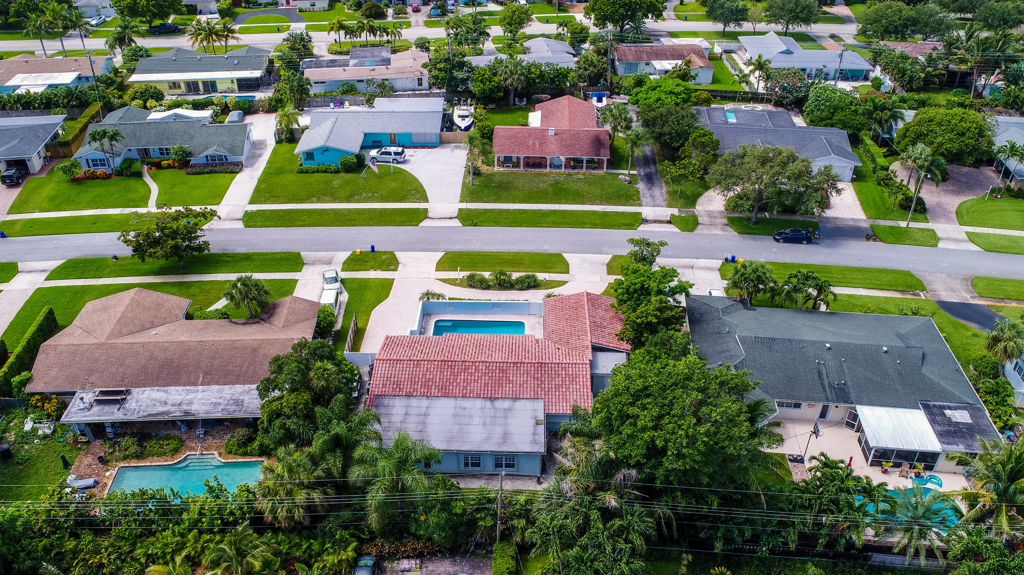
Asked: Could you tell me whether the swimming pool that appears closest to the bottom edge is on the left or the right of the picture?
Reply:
right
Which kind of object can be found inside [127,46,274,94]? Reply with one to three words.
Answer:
house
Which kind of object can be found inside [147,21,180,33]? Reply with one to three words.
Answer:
vehicle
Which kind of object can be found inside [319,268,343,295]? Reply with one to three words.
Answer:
car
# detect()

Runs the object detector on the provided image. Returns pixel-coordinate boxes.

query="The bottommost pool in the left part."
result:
[99,450,265,516]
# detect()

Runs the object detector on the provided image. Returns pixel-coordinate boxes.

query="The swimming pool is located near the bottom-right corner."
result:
[848,485,968,538]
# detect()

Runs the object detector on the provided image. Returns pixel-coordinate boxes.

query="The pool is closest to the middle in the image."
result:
[431,318,529,334]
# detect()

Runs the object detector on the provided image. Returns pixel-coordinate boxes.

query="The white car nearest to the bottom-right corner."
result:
[702,283,726,297]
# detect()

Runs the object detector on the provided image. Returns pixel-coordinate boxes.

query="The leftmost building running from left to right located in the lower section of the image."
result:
[24,287,321,435]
